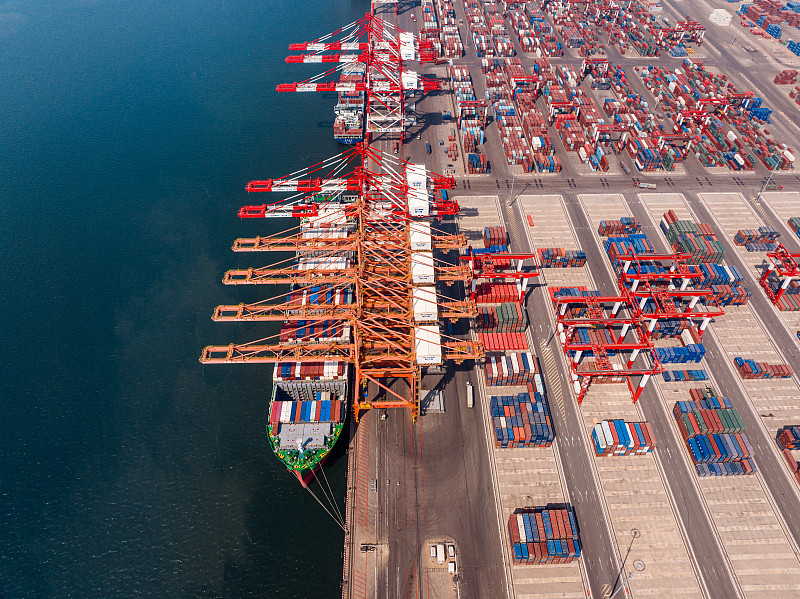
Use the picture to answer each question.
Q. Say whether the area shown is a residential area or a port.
port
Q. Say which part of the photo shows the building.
top right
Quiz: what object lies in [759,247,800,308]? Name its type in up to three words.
container crane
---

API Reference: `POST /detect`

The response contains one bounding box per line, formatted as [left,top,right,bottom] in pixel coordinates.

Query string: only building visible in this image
[709,5,737,26]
